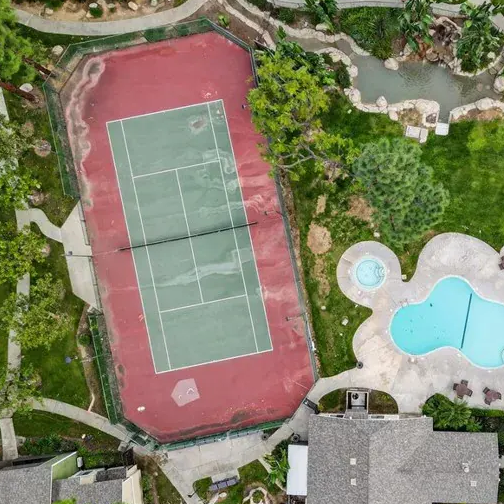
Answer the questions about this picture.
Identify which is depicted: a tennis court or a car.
tennis court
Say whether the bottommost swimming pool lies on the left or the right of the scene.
right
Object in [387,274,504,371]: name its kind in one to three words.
swimming pool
